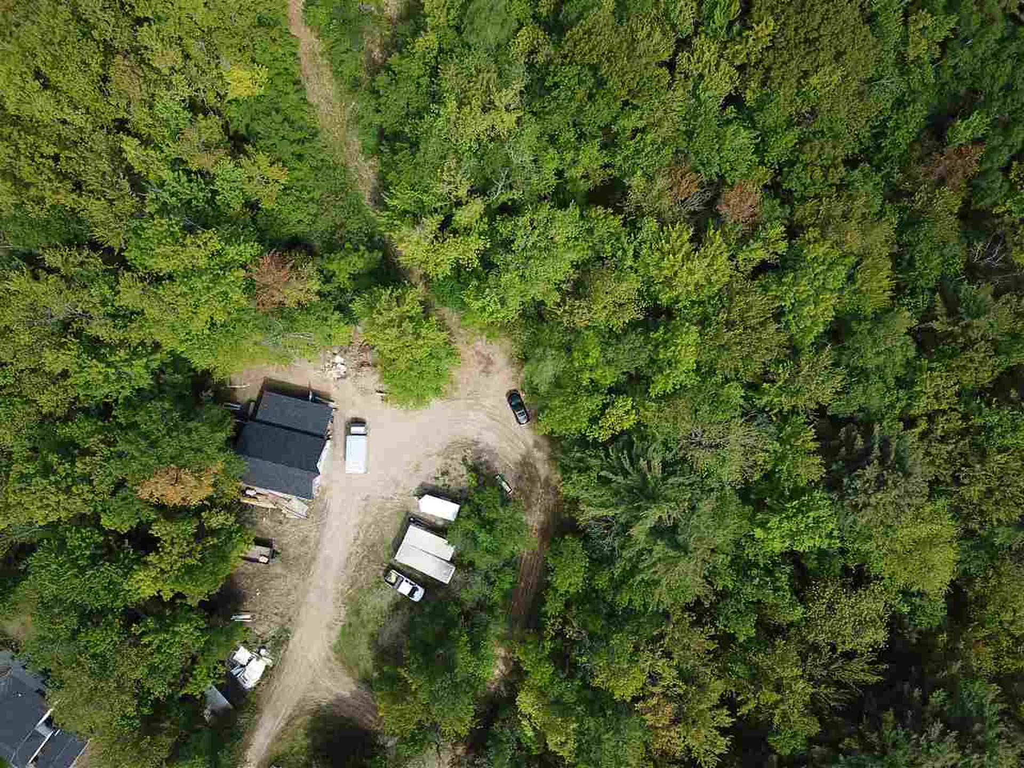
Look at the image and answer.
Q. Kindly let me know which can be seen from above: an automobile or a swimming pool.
automobile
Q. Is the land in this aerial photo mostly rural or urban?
rural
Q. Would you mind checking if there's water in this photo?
No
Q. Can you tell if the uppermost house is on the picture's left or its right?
left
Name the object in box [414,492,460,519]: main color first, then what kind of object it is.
white trailer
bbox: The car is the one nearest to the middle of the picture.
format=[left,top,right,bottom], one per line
[506,389,531,427]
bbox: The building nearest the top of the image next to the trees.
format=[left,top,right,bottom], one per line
[229,394,337,499]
